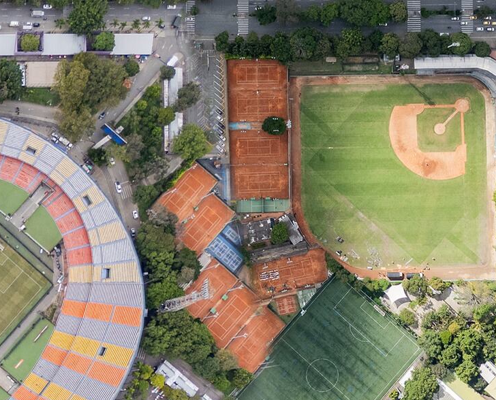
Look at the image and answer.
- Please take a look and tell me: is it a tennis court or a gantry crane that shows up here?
tennis court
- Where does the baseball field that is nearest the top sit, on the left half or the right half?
right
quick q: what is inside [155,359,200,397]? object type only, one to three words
building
